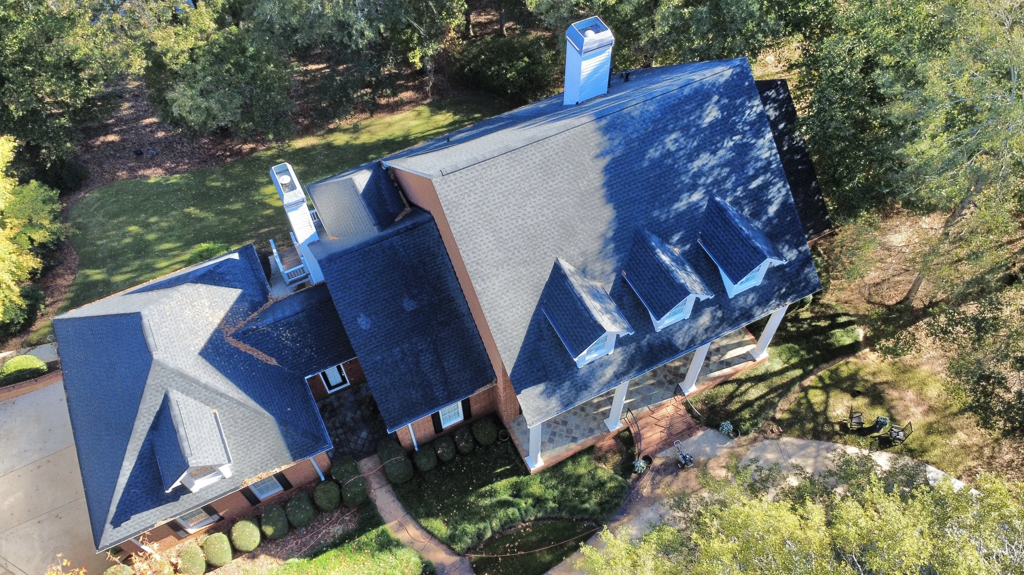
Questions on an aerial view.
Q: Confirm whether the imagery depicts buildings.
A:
Yes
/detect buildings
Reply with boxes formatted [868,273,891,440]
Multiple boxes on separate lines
[49,17,838,561]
